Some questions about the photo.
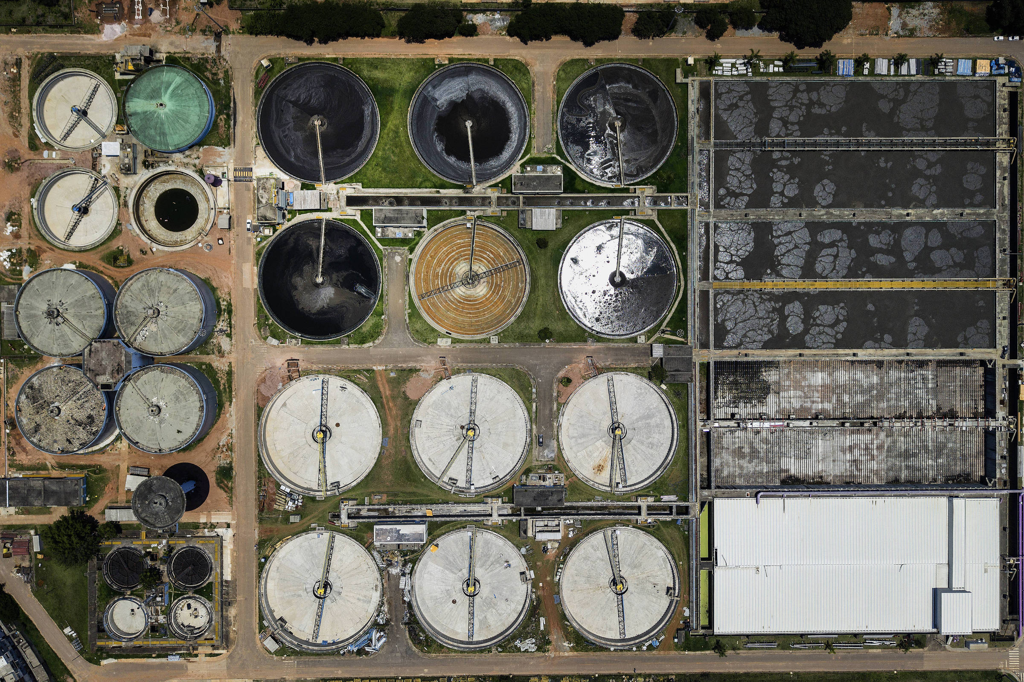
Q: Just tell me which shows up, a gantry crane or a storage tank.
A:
storage tank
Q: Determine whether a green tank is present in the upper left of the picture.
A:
Yes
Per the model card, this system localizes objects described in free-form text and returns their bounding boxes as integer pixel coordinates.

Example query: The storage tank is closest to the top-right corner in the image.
[558,62,679,187]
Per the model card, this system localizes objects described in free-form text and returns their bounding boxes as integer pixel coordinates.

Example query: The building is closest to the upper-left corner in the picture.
[114,45,166,79]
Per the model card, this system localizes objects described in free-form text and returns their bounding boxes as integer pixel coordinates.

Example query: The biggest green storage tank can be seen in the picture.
[124,65,215,154]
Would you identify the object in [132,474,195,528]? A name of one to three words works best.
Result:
water tower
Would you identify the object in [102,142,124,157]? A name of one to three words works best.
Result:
building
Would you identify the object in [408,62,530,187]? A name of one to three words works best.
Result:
storage tank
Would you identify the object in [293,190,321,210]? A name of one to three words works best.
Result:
shed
